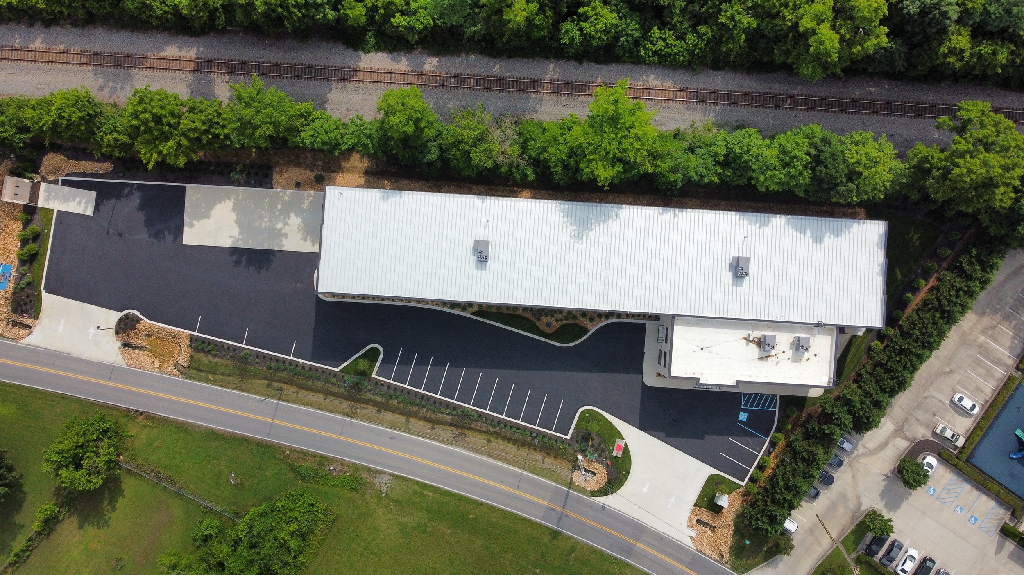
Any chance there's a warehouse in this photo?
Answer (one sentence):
Yes, there is a warehouse in the image.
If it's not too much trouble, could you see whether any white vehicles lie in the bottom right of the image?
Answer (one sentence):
Yes, a white vehicle is visible in the bottom right of the image.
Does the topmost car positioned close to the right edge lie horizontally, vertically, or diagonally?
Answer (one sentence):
Seen from above, the topmost car positioned close to the right edge lies diagonally.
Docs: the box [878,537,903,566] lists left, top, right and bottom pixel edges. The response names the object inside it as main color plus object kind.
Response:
gray car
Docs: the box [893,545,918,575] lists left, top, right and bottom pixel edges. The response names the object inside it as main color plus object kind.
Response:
white car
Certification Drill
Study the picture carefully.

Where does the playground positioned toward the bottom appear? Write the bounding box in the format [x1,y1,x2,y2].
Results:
[969,381,1024,498]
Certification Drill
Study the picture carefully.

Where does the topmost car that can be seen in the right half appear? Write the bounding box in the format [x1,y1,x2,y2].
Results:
[949,391,979,416]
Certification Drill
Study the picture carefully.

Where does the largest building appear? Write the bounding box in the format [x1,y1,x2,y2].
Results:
[315,185,890,329]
